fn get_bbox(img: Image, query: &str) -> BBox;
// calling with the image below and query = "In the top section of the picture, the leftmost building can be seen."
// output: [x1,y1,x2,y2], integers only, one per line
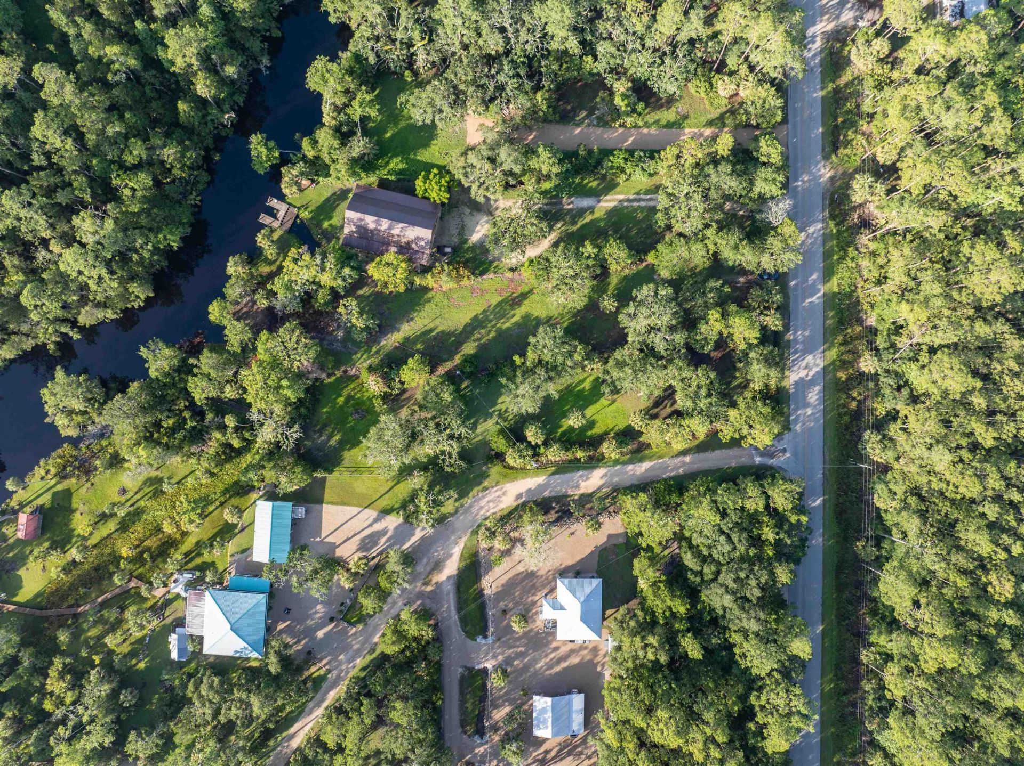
[343,184,440,264]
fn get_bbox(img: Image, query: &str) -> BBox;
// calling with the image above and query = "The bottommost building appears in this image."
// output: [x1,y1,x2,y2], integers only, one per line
[533,691,585,741]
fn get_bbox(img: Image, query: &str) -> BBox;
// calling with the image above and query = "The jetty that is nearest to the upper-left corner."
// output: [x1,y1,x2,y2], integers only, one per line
[257,196,299,232]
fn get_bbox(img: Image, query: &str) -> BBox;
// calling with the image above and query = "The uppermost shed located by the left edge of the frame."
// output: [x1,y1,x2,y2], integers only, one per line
[17,503,50,539]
